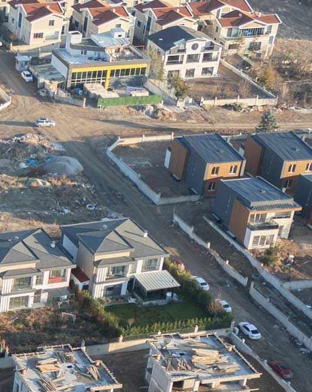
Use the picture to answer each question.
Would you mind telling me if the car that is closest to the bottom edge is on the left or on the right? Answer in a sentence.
The car that is closest to the bottom edge sits on the right side.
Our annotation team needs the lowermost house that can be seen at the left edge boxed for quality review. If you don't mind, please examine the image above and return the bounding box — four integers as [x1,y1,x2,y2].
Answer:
[0,227,79,312]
